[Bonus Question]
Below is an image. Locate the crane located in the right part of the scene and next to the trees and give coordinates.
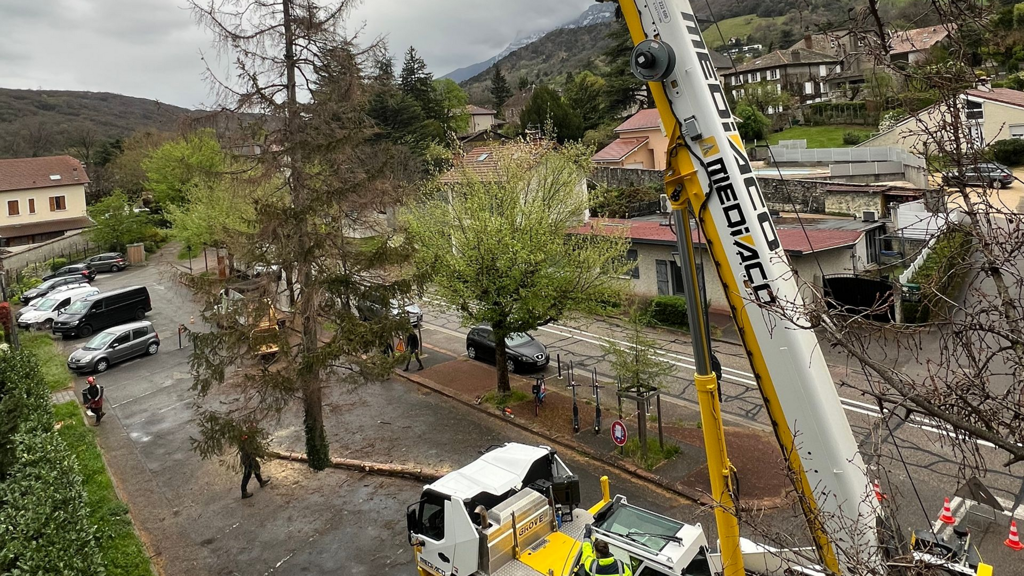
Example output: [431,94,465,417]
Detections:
[406,0,994,576]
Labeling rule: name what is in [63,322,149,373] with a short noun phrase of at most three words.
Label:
car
